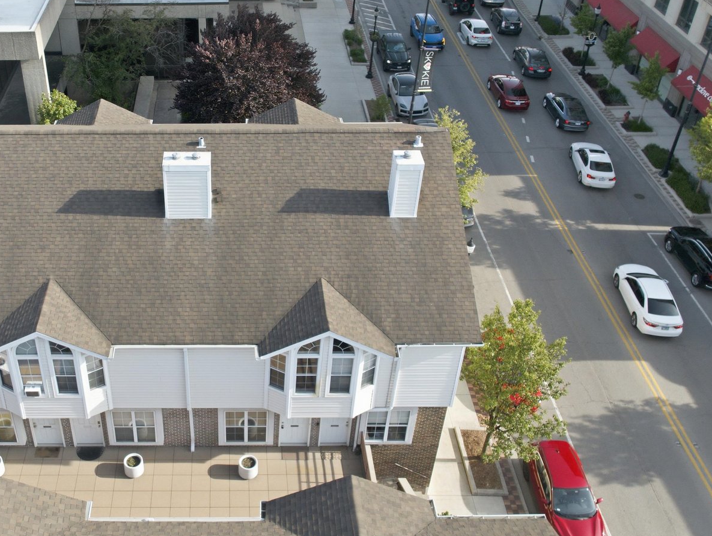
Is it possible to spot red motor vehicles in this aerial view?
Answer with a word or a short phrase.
Yes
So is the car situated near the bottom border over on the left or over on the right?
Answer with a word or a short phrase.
right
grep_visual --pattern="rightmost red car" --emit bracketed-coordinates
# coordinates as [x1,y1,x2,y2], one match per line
[519,439,607,536]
